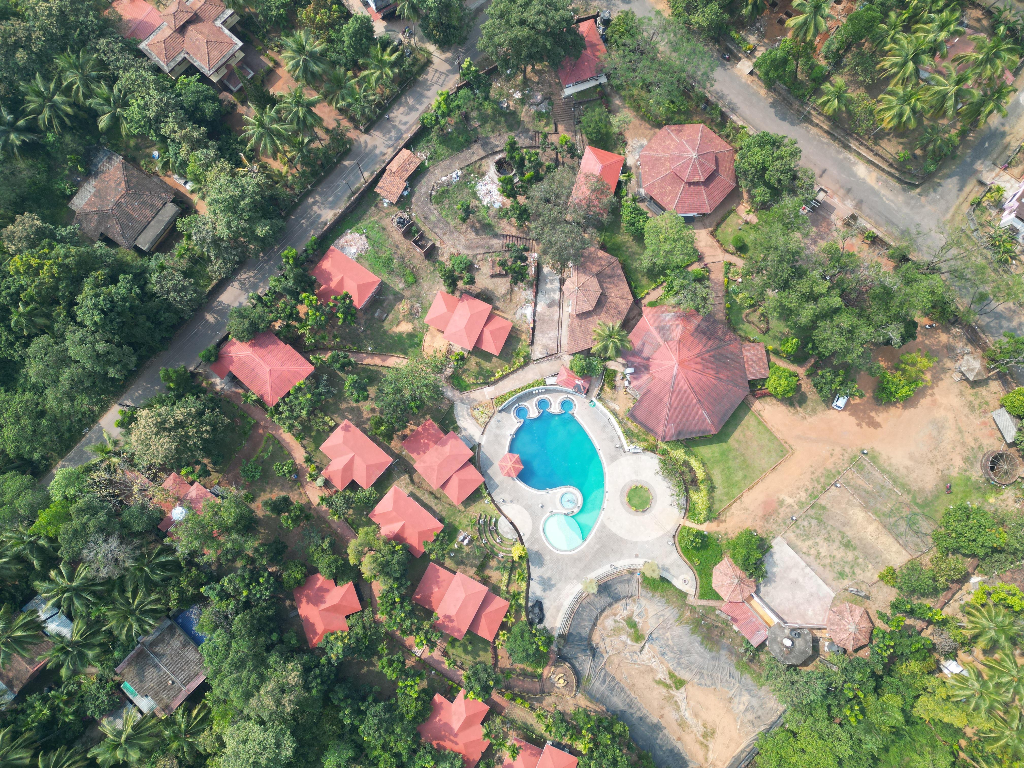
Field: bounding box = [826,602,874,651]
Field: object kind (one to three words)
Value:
gazebo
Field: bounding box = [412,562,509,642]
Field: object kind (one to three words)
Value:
house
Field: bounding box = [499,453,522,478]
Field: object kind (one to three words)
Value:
umbrella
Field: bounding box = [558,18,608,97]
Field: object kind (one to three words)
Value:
building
